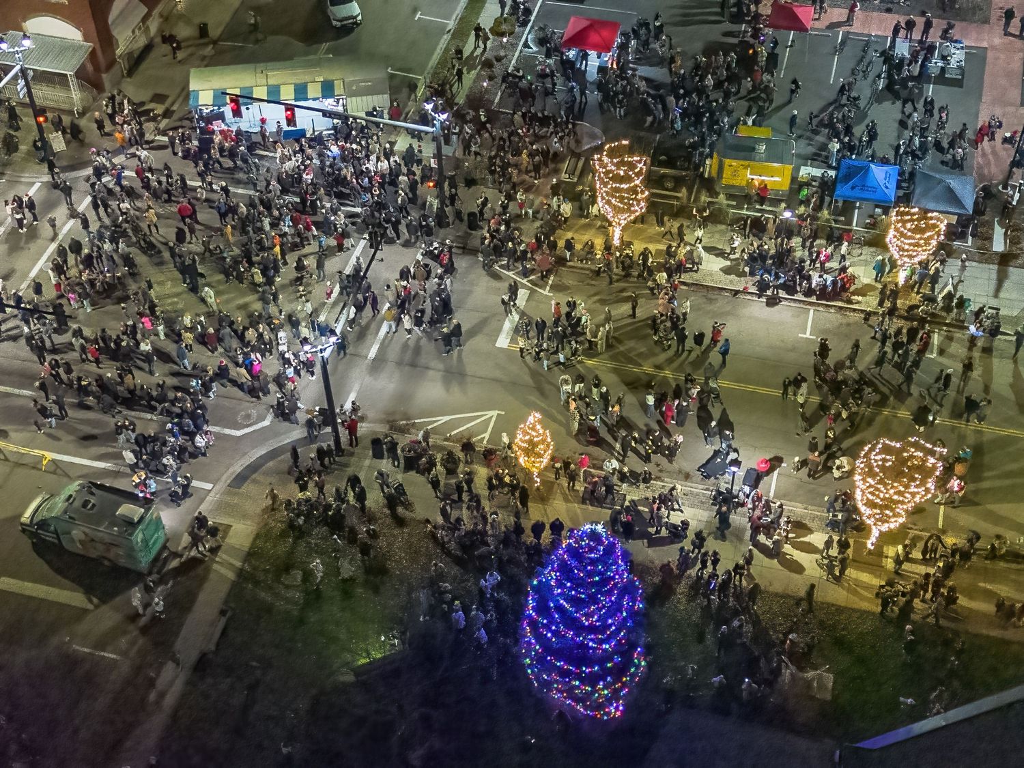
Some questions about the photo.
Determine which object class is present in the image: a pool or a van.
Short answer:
van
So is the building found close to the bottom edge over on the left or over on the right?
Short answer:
right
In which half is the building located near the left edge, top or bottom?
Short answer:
top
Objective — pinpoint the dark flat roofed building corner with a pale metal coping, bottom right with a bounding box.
[831,686,1024,768]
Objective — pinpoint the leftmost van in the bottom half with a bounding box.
[15,482,172,580]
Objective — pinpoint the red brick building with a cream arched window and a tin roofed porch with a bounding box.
[0,0,186,117]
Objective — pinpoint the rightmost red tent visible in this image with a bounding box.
[766,0,814,61]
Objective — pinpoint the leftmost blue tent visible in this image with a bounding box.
[830,159,899,236]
